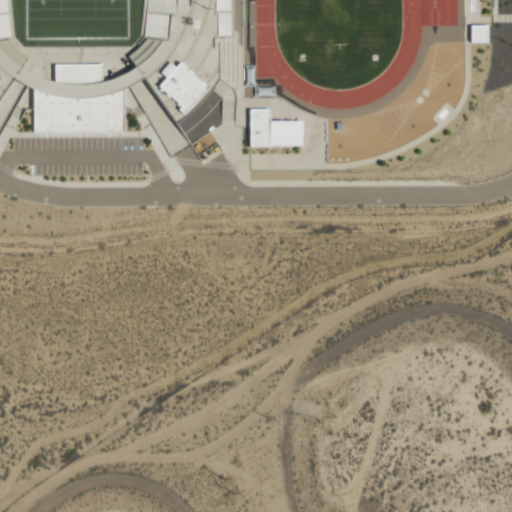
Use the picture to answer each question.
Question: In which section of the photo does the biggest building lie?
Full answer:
The biggest building is located in the top left region of the scene.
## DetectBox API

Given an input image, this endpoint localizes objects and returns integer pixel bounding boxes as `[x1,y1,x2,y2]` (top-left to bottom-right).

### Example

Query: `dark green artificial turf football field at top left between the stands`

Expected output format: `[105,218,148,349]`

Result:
[12,0,148,46]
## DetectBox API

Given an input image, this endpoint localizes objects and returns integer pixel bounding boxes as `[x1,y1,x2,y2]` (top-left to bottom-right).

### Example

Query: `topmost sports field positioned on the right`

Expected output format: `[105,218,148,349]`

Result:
[276,0,403,90]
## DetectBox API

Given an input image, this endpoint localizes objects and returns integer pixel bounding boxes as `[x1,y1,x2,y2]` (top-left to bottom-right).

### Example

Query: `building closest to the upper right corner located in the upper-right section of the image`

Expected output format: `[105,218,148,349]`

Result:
[471,24,490,44]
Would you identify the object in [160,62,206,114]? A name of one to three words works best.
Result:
building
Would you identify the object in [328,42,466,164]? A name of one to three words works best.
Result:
sports field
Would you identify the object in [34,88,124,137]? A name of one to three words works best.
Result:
building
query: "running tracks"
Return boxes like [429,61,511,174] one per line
[256,0,466,118]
